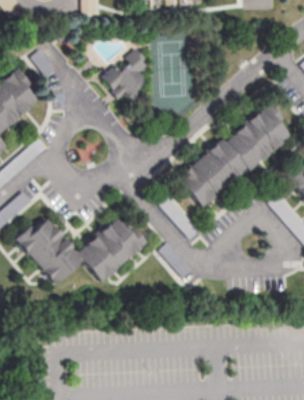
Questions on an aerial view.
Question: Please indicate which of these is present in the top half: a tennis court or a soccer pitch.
tennis court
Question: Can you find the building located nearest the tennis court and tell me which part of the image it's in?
top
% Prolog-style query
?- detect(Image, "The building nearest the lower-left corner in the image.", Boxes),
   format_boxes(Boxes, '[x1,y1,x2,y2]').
[17,219,80,285]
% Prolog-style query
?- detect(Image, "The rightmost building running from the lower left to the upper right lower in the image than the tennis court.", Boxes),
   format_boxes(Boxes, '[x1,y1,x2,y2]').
[180,108,294,207]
